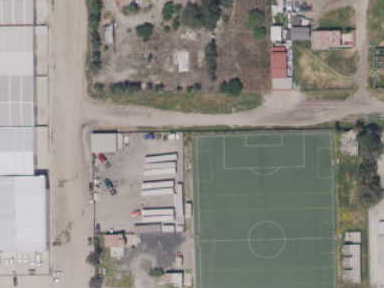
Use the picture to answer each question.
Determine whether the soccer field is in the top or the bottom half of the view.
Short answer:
bottom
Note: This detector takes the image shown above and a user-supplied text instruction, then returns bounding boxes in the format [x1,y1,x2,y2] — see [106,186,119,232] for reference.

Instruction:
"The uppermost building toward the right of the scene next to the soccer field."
[342,129,358,156]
